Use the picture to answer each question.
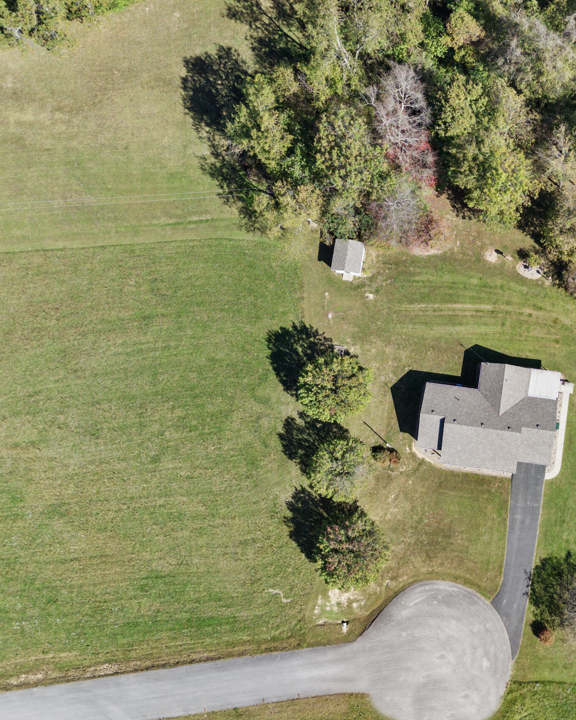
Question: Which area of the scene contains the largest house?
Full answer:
You can find the largest house in the right area of the picture.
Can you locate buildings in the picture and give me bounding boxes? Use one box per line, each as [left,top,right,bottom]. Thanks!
[331,239,366,282]
[416,362,561,473]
